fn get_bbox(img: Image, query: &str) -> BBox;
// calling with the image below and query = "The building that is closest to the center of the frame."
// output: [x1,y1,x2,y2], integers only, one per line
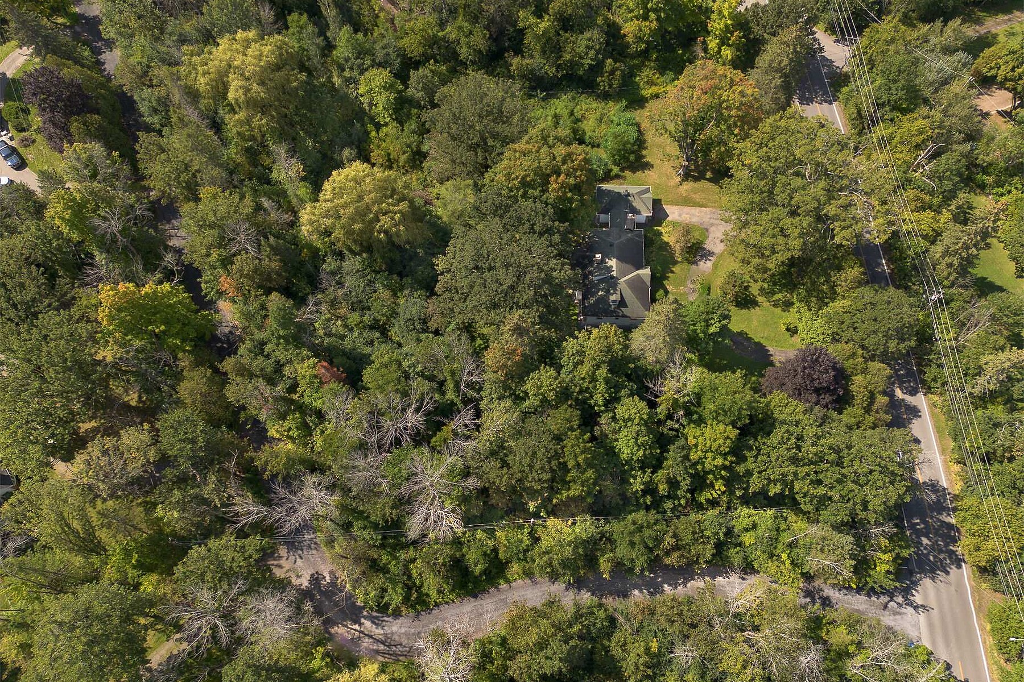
[574,185,652,326]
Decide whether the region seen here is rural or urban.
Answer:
rural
